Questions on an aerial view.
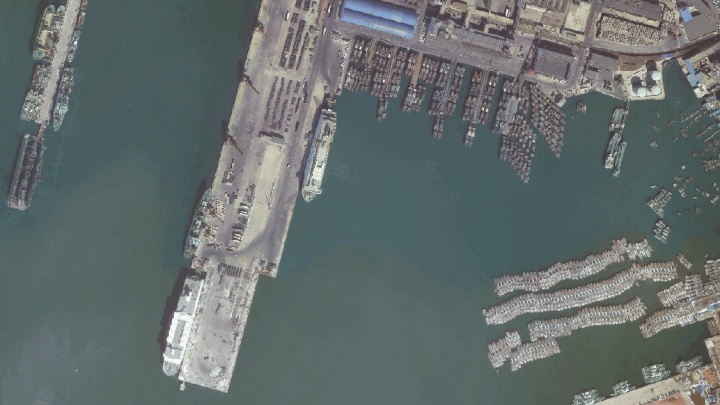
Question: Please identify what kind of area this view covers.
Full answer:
It's a port.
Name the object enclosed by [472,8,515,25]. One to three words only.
building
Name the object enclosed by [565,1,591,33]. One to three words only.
building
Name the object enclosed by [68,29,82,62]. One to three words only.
ship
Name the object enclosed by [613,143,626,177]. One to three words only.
ship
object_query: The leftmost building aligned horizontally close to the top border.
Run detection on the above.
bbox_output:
[339,0,419,38]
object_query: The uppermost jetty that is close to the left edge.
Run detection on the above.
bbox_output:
[36,0,82,124]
